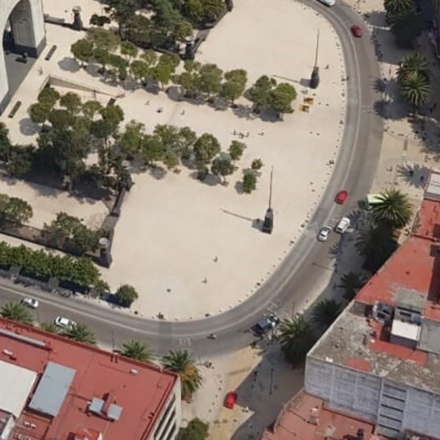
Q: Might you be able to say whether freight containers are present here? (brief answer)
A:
No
